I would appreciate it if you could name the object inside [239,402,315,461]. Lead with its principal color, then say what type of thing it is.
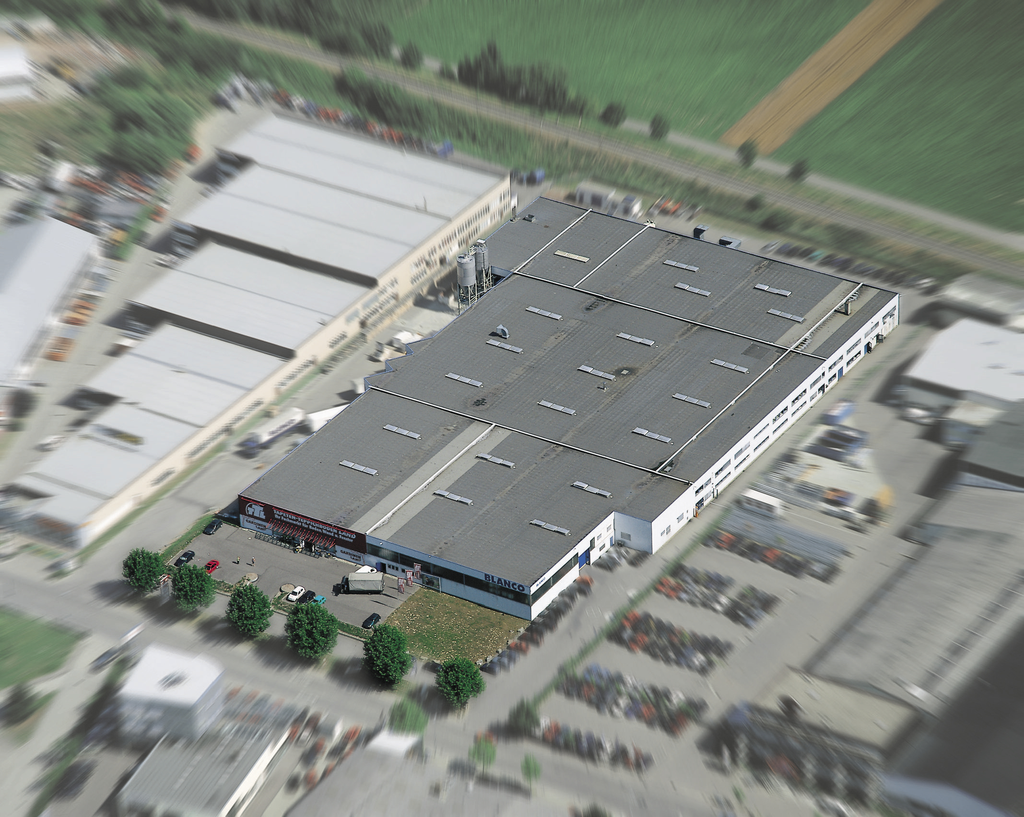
white truck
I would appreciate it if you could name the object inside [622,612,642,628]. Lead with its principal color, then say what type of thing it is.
red car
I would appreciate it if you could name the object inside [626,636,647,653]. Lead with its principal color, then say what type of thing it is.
red car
